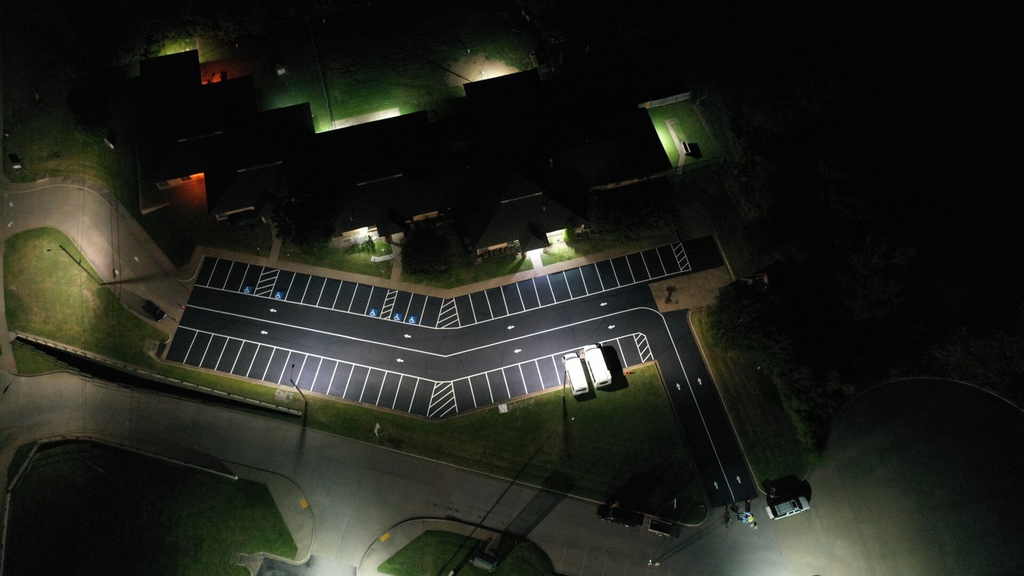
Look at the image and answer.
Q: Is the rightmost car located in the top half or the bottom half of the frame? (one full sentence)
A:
It is in the bottom half that the rightmost car appears.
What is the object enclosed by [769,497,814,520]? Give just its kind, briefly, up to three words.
car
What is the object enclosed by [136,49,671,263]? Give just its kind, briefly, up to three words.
building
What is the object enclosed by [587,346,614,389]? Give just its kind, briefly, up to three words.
vehicle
